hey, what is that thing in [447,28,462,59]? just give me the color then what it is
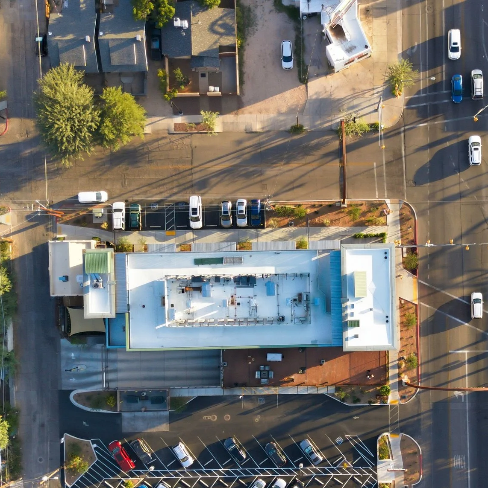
white car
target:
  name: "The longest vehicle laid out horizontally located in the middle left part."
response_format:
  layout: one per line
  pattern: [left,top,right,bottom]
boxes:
[77,190,108,203]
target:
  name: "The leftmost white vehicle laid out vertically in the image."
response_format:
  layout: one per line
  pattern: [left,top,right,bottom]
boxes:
[113,201,126,231]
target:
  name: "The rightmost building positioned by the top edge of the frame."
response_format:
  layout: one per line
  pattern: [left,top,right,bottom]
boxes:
[321,0,370,70]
